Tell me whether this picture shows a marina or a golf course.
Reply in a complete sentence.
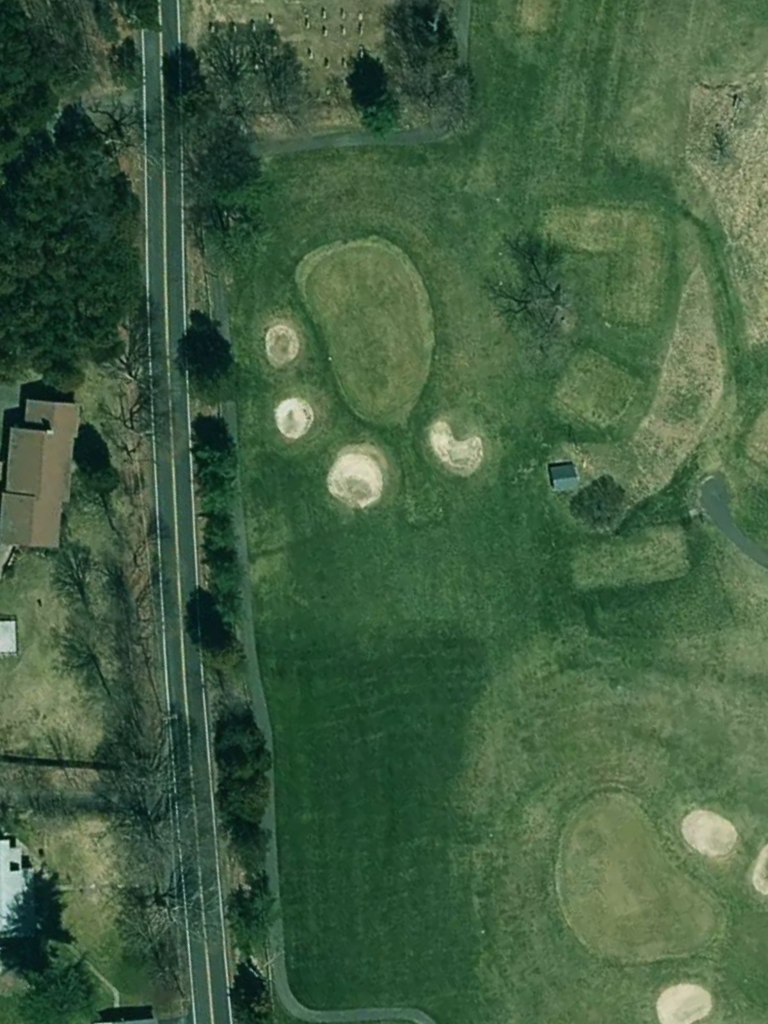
This looks like a golf course.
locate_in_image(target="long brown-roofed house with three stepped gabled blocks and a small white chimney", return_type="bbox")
[0,400,79,549]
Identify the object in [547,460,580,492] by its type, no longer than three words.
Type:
shed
